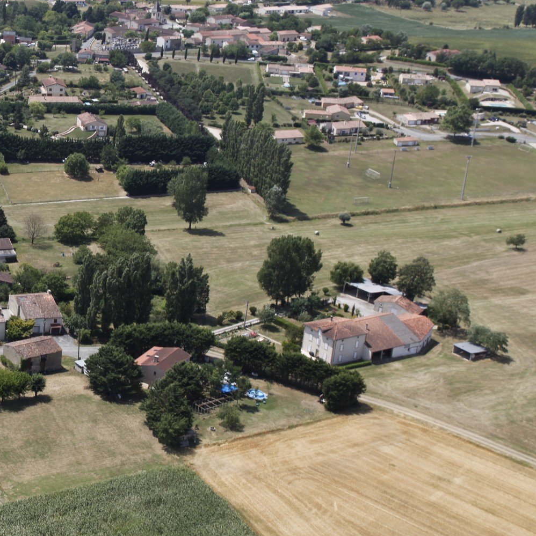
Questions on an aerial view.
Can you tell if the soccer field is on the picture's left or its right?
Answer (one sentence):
You can find the soccer field on the right side of the picture.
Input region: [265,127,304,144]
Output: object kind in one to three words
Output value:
house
